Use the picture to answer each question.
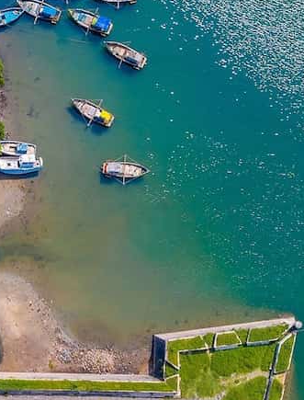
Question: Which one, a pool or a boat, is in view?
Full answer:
Looking from above, you can make out a boat.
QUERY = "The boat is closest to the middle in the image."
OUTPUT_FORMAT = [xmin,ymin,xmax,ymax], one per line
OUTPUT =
[99,149,151,191]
